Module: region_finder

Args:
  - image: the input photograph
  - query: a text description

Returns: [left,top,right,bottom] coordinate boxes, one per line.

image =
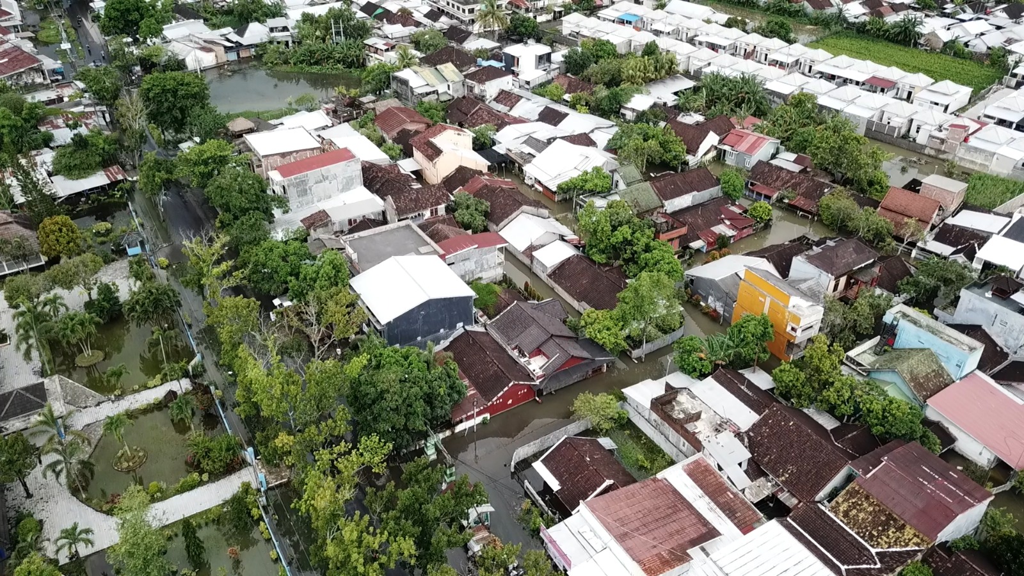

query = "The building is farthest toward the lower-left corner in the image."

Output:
[0,375,108,438]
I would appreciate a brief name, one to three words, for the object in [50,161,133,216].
shed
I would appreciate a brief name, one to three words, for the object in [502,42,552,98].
house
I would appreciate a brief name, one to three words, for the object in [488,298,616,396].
house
